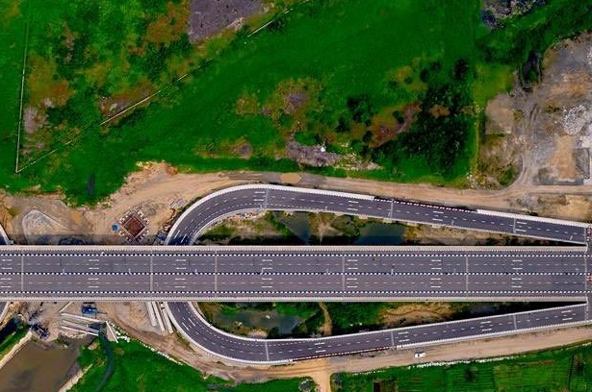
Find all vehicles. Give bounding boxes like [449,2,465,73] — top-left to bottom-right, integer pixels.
[27,316,48,339]
[415,351,429,358]
[80,307,106,315]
